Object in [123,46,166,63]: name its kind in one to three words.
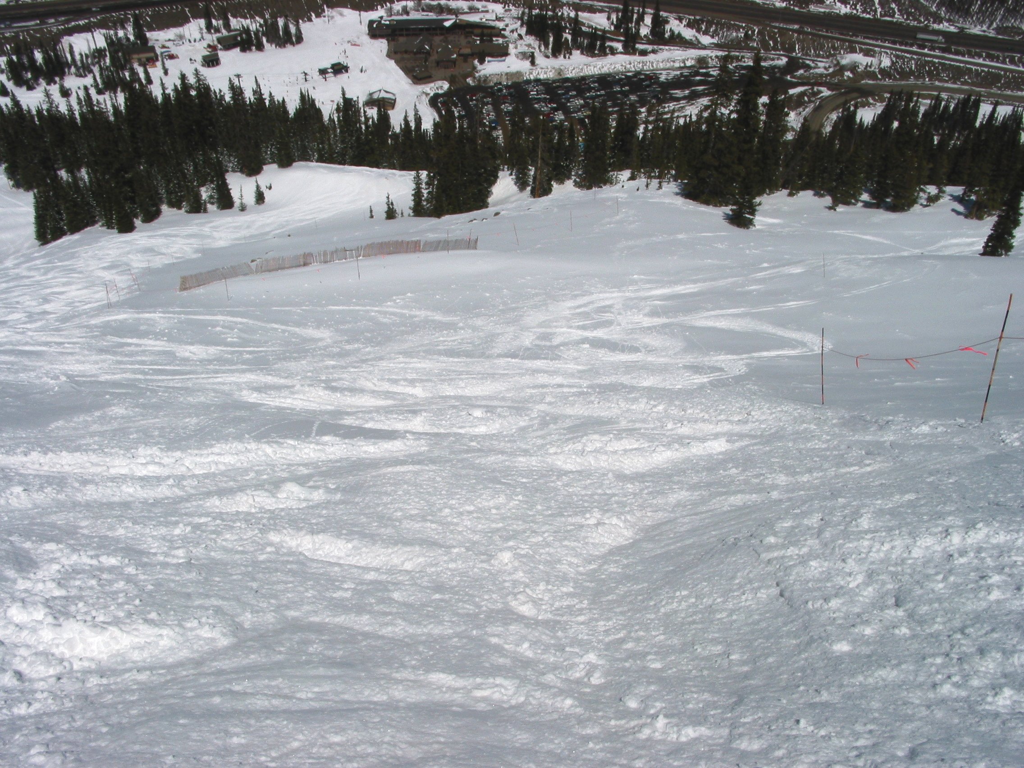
building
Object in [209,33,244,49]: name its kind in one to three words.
barn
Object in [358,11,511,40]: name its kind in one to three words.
building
